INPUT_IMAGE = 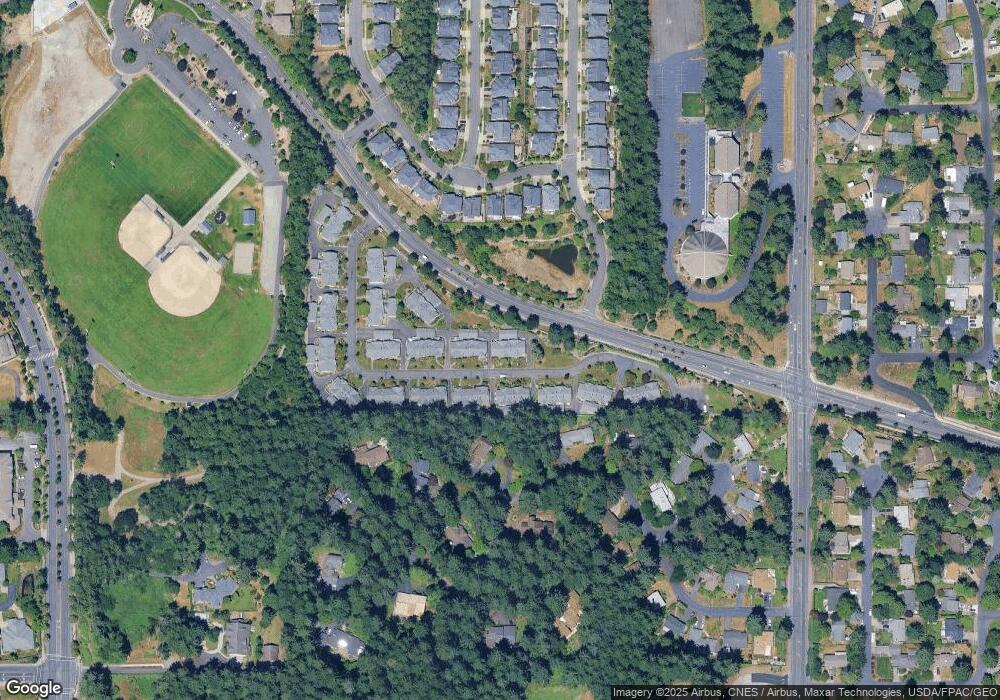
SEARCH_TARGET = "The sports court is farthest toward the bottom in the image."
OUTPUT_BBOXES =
[233,243,254,273]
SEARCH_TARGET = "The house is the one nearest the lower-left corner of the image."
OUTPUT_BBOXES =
[3,618,34,652]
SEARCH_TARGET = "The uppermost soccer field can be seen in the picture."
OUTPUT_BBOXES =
[71,77,240,226]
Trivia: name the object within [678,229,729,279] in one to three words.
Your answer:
building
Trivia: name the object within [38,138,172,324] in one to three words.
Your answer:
baseball field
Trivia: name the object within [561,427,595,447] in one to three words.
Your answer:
house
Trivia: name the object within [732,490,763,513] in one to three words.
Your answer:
house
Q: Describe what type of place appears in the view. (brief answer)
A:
residential area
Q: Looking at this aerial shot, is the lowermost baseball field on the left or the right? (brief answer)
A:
left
